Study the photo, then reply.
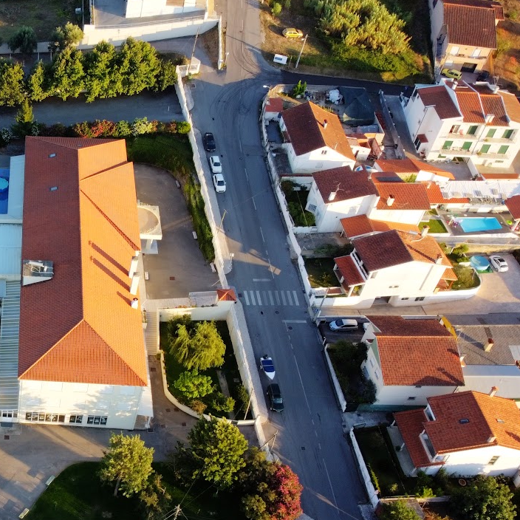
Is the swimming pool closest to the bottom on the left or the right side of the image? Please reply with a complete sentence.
You can find the swimming pool closest to the bottom on the right side of the picture.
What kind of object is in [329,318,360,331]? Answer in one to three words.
vehicle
